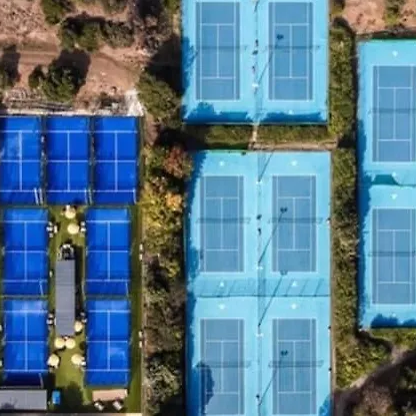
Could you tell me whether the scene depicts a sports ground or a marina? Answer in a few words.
sports ground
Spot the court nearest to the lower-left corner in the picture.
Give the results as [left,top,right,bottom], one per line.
[0,300,48,393]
